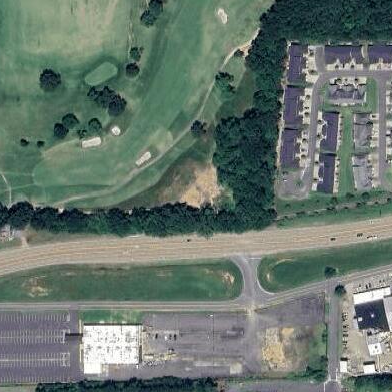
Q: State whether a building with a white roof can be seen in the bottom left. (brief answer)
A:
Yes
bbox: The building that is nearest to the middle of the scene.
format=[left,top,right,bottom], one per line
[280,129,302,169]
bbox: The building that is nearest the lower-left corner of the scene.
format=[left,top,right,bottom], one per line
[64,325,139,373]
